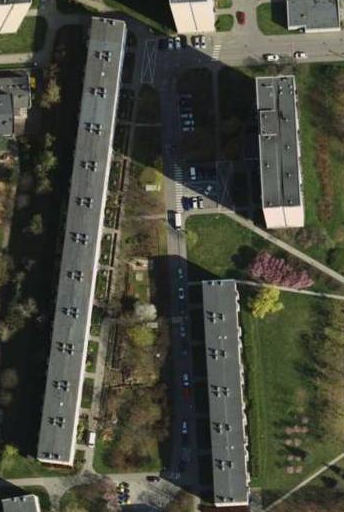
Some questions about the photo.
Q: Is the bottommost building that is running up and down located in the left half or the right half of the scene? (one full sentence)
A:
The bottommost building that is running up and down is on the right side of the image.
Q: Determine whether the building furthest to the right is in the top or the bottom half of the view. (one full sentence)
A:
It is in the top half that the building furthest to the right appears.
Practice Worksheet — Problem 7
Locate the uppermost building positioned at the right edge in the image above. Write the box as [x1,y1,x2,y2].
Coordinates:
[286,0,339,34]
